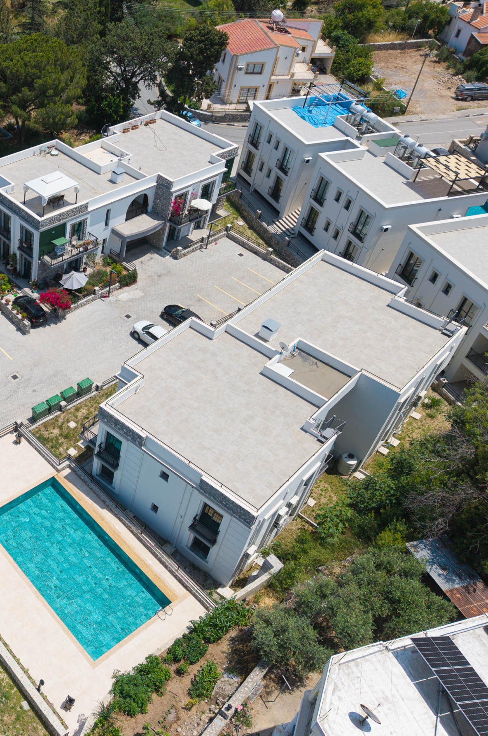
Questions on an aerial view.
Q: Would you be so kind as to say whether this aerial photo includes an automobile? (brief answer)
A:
Yes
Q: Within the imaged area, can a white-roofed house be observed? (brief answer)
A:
Yes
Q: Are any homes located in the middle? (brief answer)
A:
Yes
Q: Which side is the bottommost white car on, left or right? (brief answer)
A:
left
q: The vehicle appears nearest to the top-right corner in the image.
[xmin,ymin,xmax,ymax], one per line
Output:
[456,82,488,100]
